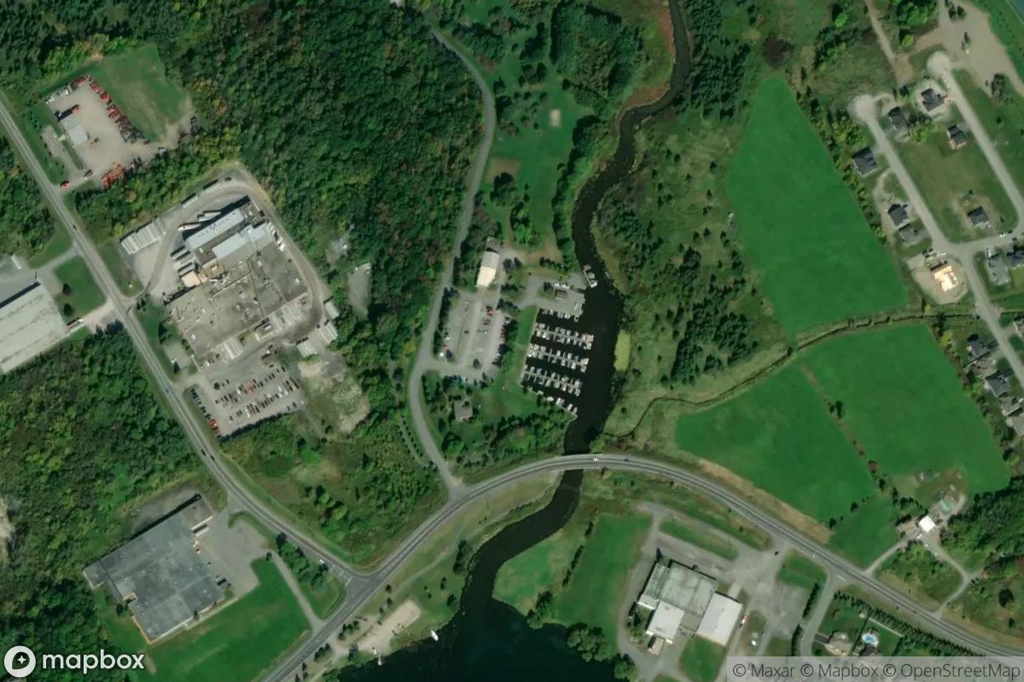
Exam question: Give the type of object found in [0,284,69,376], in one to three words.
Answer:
building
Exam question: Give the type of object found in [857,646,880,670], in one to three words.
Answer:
house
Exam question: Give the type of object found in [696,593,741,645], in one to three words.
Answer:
building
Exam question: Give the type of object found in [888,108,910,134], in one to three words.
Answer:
house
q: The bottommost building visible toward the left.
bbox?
[84,496,223,643]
